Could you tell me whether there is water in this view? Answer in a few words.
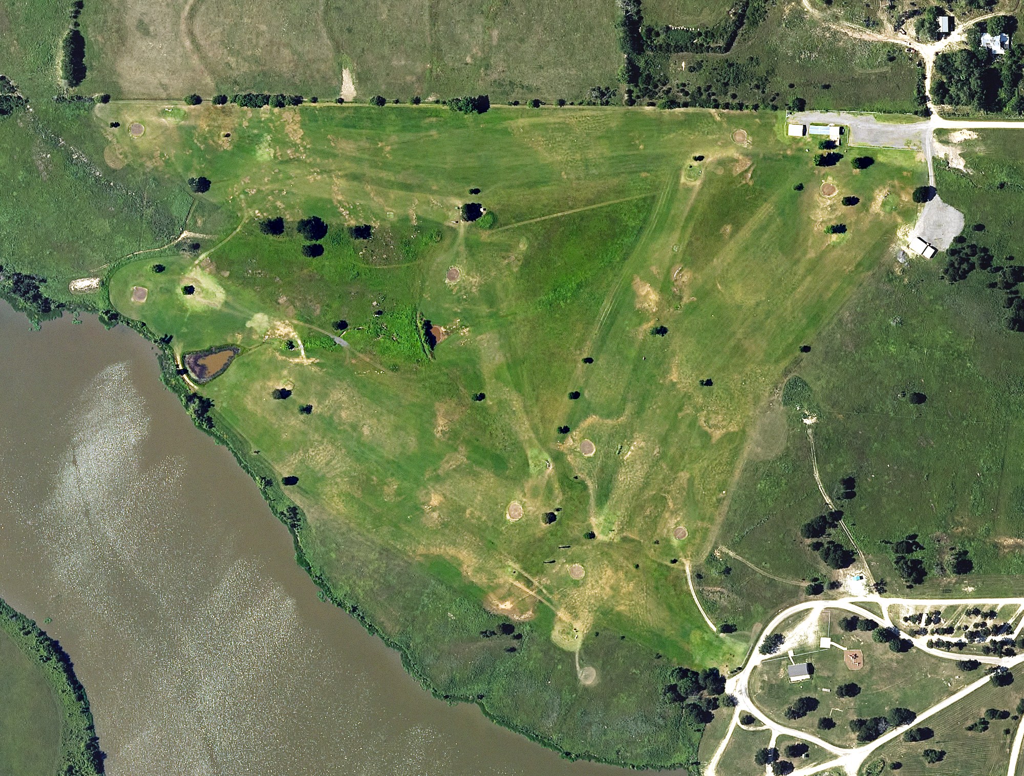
Yes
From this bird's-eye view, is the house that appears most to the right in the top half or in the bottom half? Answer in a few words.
top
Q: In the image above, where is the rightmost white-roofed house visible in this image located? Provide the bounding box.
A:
[981,33,1011,56]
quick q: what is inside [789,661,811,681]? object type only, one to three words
building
